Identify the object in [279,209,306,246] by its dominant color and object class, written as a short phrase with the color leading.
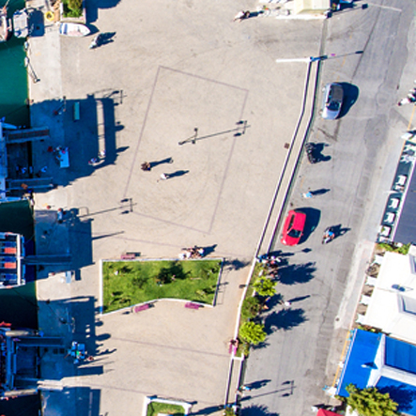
red car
